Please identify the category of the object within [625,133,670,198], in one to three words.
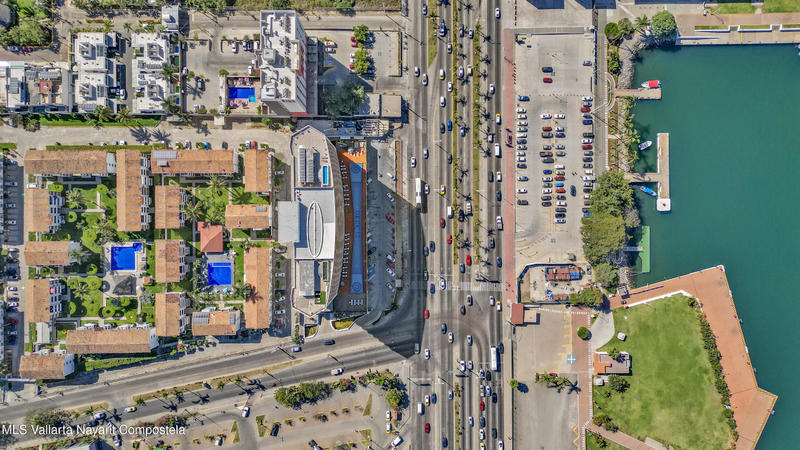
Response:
pier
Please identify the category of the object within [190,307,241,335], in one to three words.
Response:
house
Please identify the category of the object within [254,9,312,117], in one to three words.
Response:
building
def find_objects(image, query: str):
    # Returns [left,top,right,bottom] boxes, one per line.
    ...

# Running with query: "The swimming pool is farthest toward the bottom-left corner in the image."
[110,242,143,271]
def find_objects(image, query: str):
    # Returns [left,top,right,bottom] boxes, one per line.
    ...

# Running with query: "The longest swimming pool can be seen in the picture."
[348,162,364,294]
